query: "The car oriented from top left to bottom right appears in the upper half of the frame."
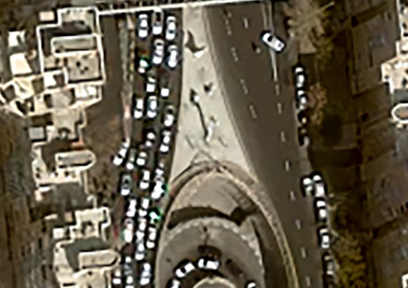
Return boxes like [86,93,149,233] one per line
[262,33,285,51]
